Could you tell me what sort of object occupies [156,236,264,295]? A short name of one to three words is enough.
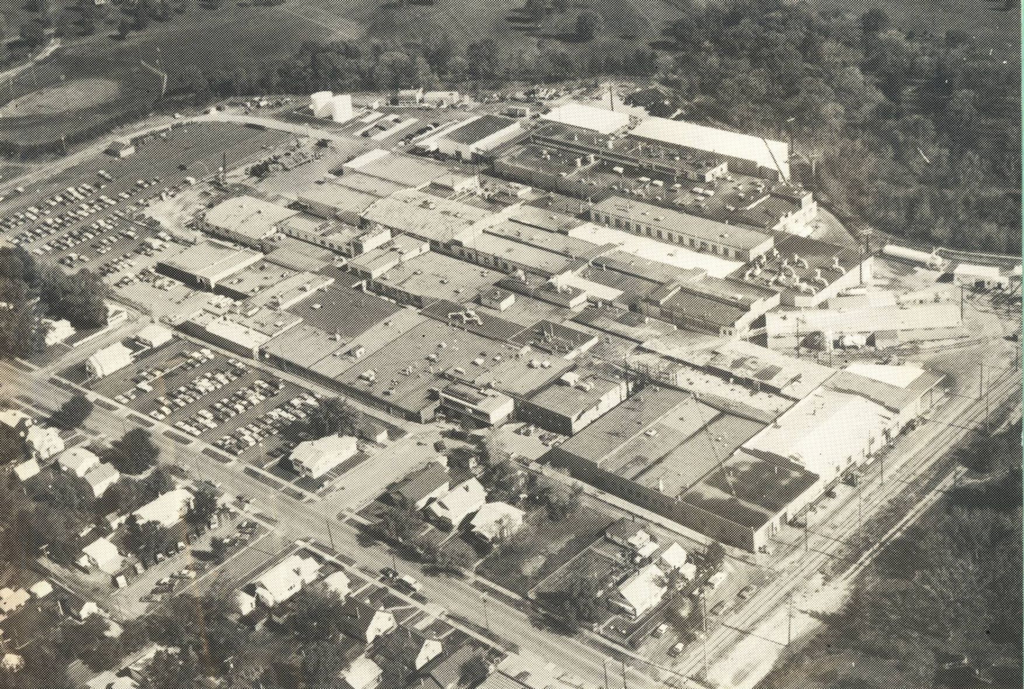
building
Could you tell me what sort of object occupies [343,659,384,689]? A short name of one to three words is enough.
house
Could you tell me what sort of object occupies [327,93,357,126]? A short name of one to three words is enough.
water tank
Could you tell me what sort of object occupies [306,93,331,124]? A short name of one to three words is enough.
water tank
